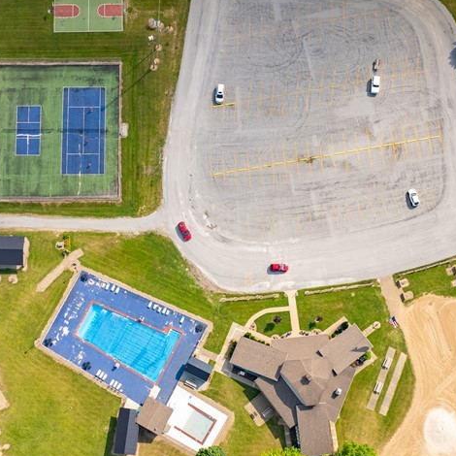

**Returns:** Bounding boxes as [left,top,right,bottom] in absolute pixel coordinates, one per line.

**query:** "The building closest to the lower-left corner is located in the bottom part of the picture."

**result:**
[113,408,140,456]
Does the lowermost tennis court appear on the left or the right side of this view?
left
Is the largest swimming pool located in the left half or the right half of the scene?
left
